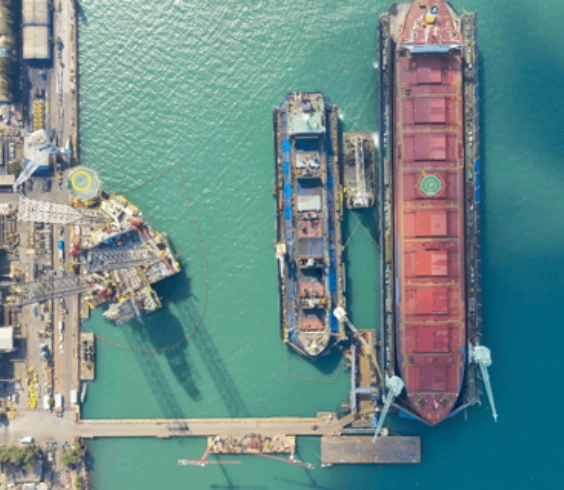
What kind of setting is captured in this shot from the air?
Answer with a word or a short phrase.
port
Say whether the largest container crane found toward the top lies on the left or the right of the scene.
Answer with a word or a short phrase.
left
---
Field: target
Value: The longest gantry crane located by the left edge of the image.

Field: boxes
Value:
[13,138,75,190]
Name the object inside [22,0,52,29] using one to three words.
building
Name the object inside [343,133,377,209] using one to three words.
ship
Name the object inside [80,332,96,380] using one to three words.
pier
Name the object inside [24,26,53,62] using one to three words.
building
